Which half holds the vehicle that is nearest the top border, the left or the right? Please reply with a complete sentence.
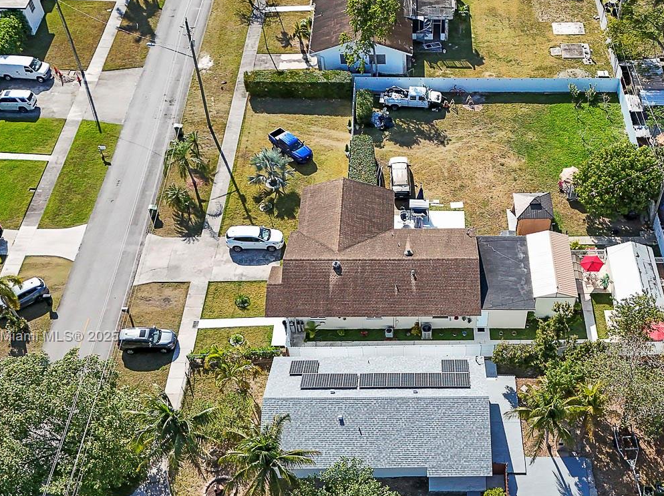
The vehicle that is nearest the top border sits on the left side.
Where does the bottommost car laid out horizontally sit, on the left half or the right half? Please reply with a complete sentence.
The bottommost car laid out horizontally sits on the left side.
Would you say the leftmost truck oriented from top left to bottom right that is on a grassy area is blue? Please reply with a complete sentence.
Yes, the leftmost truck oriented from top left to bottom right that is on a grassy area is blue.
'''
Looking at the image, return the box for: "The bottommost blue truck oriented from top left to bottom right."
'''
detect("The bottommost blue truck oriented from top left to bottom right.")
[266,125,316,164]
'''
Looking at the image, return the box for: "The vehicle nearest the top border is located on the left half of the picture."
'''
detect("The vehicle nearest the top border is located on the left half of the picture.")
[0,51,57,84]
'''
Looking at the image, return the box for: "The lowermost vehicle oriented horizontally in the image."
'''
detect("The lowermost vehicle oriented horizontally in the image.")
[109,323,184,355]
